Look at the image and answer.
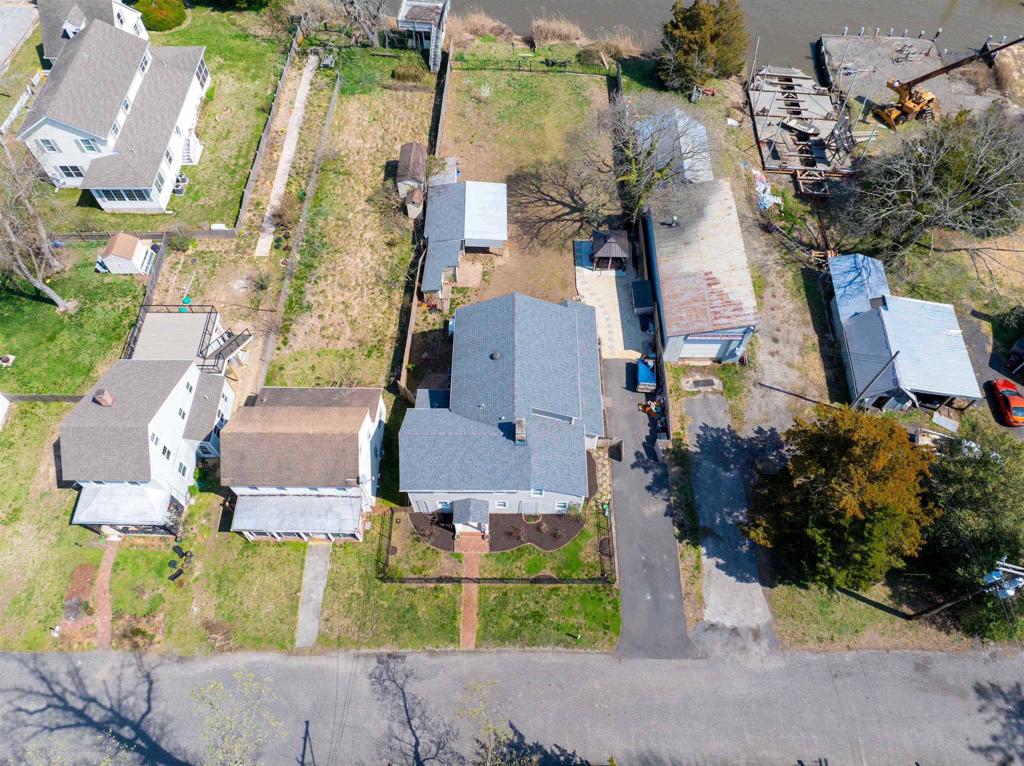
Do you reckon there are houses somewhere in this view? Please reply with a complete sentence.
Yes, looking at the shot, I can spot a house.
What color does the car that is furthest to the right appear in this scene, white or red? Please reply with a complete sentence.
The car that is furthest to the right looks red in the image.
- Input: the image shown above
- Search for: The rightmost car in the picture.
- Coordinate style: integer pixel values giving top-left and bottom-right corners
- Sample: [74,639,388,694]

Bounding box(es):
[997,375,1024,422]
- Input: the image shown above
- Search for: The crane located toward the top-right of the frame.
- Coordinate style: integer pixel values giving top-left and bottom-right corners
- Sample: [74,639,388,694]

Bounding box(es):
[866,36,1024,137]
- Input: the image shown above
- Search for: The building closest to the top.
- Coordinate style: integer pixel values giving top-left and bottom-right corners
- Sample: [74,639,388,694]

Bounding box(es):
[398,0,448,73]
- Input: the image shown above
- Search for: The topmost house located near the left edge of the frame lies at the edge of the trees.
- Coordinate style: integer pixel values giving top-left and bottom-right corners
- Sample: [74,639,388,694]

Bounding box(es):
[12,0,211,211]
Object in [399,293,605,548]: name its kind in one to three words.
house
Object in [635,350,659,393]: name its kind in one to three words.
trailer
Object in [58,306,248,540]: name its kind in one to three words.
house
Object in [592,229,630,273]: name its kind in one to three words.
gazebo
